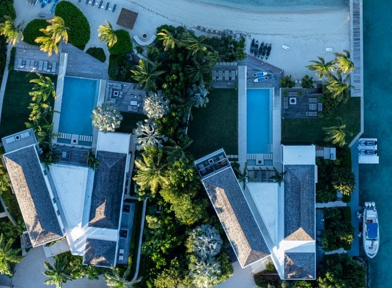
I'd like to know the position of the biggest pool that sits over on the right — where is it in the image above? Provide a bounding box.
[238,65,281,165]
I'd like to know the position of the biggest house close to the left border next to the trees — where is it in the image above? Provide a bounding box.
[1,128,131,268]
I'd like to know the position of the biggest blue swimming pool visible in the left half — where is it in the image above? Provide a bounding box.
[53,53,106,150]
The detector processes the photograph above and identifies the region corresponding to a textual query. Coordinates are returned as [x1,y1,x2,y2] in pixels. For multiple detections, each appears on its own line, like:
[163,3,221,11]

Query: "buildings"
[1,128,131,268]
[194,144,316,280]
